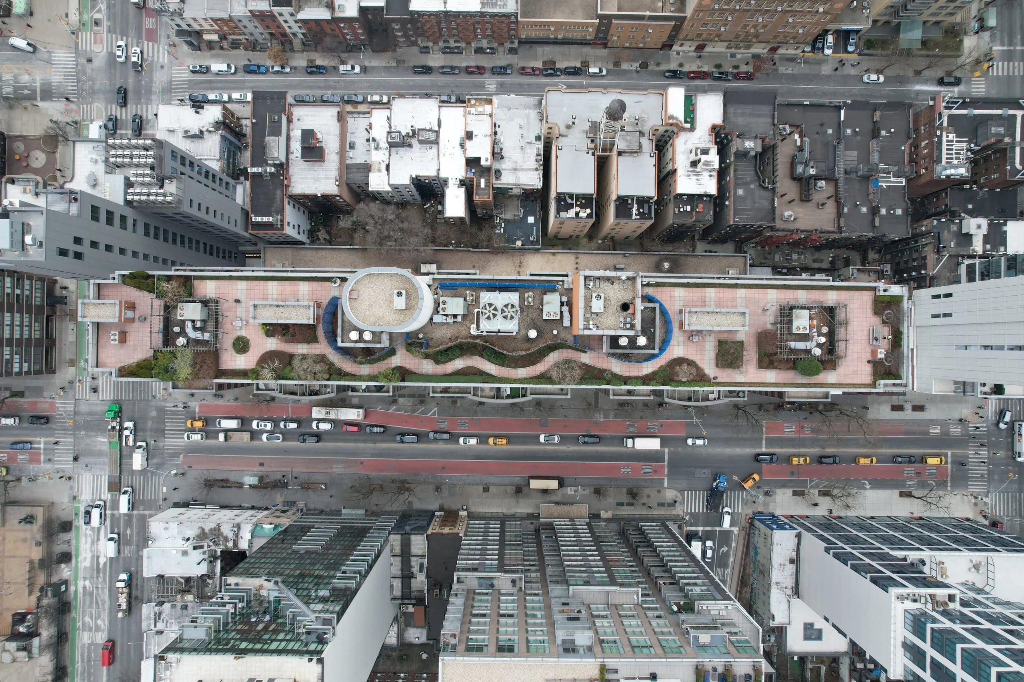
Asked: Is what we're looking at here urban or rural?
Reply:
urban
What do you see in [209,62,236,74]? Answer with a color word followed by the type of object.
white vehicle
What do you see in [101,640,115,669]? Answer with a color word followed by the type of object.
red vehicle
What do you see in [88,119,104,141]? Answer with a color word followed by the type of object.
white vehicle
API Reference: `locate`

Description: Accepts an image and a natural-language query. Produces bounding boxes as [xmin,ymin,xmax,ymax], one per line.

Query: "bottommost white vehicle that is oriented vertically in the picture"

[117,575,131,619]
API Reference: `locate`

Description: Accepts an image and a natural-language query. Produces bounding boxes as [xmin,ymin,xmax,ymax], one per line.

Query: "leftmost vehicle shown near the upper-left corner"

[9,37,33,52]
